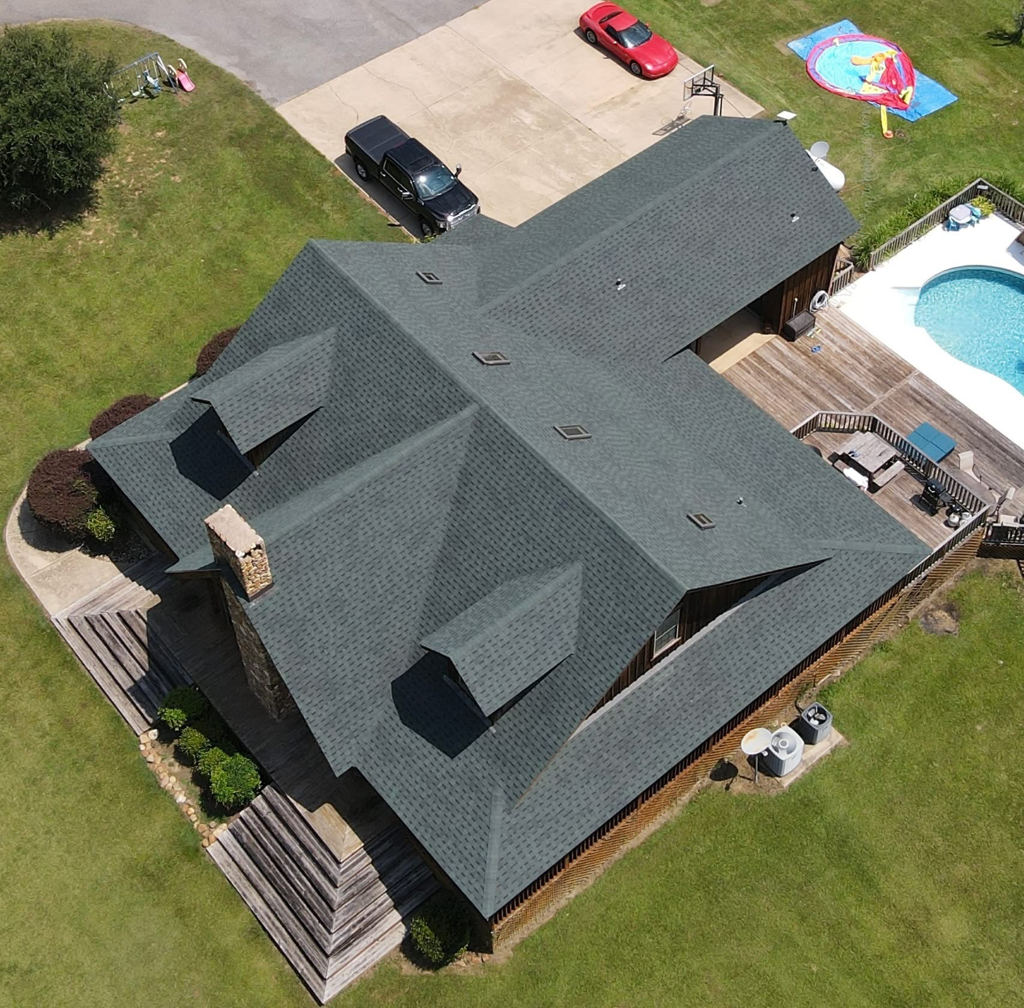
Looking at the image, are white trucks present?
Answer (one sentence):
No, there isn't any white truck down there.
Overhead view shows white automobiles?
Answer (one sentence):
No, I can see no white automobile in this picture.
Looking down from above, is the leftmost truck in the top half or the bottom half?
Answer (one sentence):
The top half of the photo is where the leftmost truck is.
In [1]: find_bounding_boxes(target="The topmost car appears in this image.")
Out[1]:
[584,4,678,79]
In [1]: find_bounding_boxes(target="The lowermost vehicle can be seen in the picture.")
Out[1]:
[344,120,479,238]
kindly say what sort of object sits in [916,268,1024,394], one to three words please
swimming pool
